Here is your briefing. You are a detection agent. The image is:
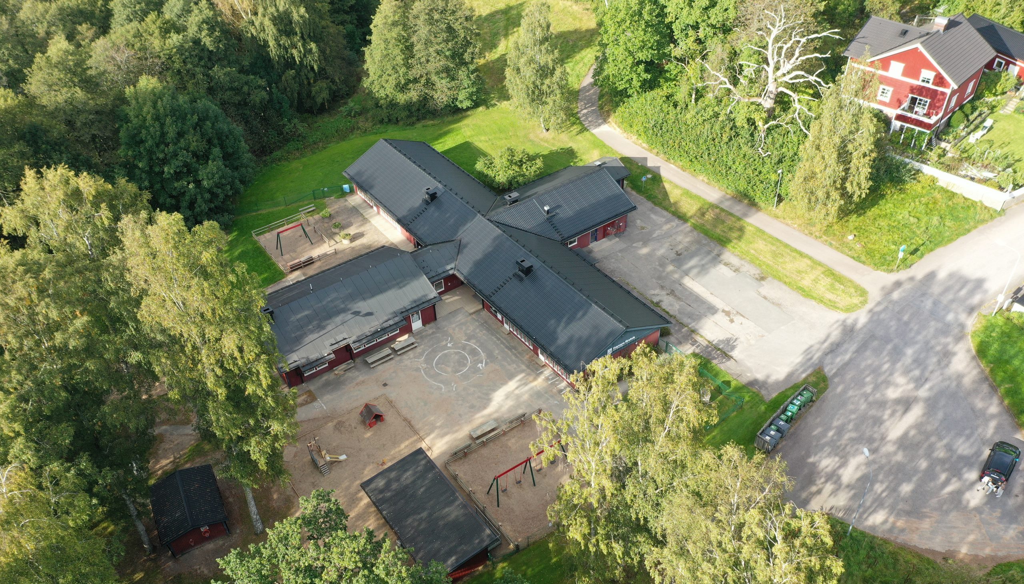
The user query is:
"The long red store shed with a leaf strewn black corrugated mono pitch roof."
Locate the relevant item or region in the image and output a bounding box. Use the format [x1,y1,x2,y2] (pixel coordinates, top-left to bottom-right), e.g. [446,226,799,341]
[358,445,503,584]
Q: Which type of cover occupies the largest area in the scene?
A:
trees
